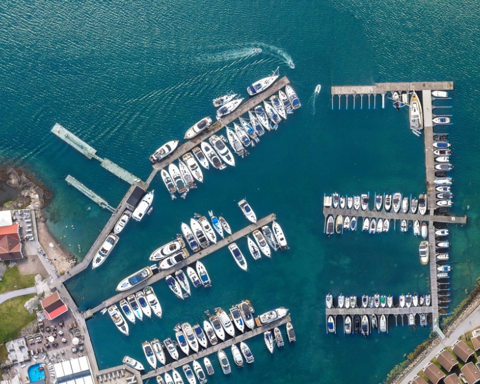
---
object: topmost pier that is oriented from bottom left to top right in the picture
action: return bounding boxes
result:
[152,76,289,171]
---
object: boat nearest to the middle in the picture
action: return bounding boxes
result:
[237,198,257,223]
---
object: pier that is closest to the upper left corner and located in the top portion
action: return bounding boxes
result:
[51,123,96,160]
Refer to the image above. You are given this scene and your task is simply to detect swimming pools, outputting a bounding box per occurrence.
[27,362,46,383]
